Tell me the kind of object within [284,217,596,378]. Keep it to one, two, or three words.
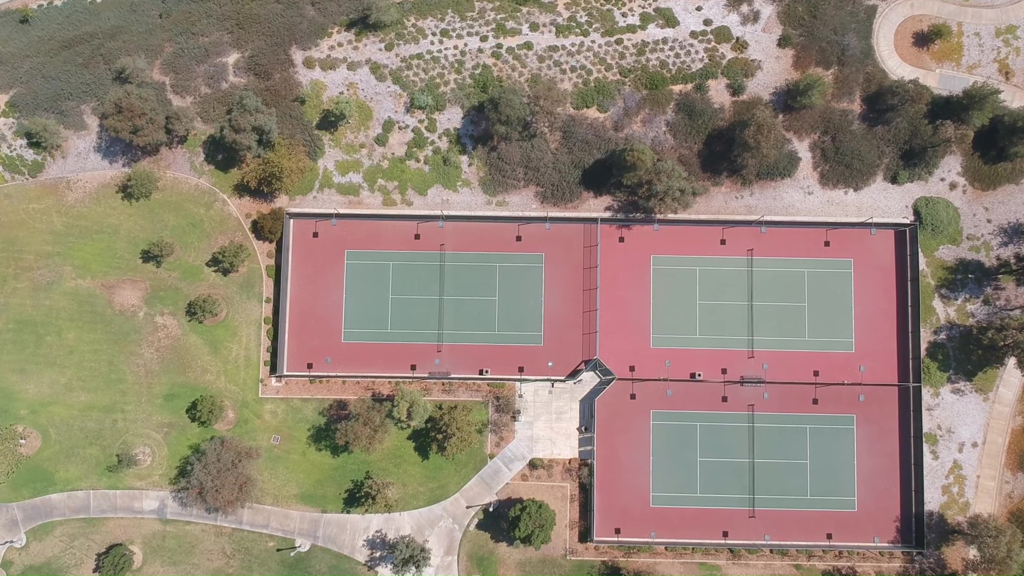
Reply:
tennis court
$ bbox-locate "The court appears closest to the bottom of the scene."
[591,377,914,545]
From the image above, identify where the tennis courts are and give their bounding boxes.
[284,217,596,378]
[597,221,911,382]
[591,377,914,545]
